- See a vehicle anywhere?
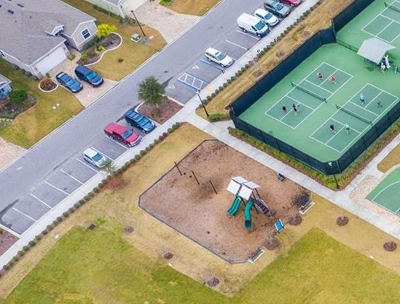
Yes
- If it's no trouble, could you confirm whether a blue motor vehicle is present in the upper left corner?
Yes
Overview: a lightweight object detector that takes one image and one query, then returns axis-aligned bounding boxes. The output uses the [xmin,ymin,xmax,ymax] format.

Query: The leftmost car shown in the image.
[54,70,81,92]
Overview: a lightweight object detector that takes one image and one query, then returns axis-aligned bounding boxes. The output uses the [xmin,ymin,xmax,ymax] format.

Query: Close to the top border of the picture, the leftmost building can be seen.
[0,0,102,77]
